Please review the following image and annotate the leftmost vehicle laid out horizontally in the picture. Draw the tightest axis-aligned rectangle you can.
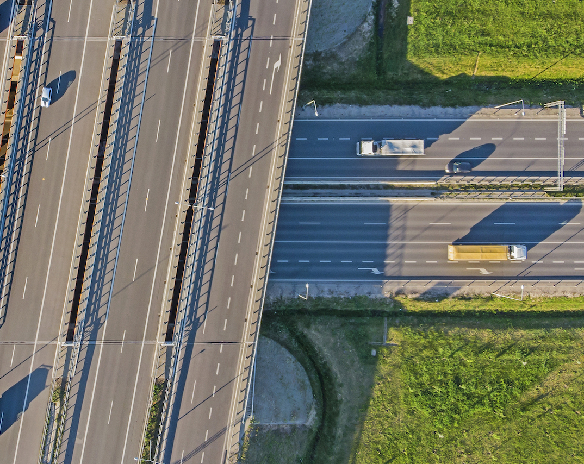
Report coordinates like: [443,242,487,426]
[357,140,424,156]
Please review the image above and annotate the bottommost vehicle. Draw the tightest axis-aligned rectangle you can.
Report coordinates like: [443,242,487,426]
[447,244,525,261]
